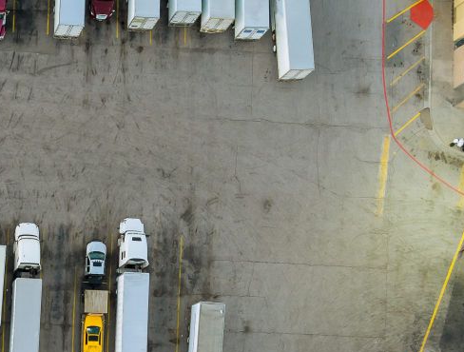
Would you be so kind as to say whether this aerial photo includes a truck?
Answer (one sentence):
Yes, I can see a truck in this picture.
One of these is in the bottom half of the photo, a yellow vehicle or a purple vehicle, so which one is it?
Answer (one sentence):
The one visible in the bottom half of the photo is a yellow vehicle.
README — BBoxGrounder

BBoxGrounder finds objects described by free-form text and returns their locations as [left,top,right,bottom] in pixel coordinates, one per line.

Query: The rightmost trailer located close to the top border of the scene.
[272,0,315,82]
